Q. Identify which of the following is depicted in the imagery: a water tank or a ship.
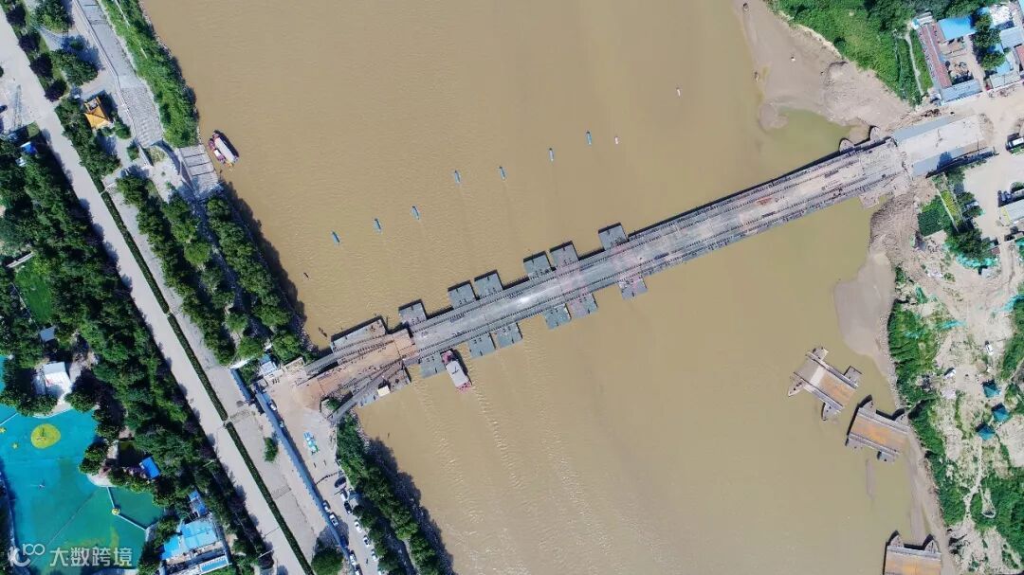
ship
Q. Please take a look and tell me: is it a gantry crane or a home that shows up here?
home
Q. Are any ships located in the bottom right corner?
Yes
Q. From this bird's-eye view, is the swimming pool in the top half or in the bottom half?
bottom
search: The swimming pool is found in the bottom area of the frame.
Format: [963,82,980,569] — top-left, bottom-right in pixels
[0,359,163,575]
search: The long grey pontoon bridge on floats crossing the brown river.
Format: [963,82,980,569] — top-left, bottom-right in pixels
[300,133,900,420]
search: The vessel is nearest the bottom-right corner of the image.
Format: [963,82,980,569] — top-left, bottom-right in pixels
[883,532,941,575]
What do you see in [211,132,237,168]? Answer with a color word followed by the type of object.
white boat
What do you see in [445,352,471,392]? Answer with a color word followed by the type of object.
white boat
